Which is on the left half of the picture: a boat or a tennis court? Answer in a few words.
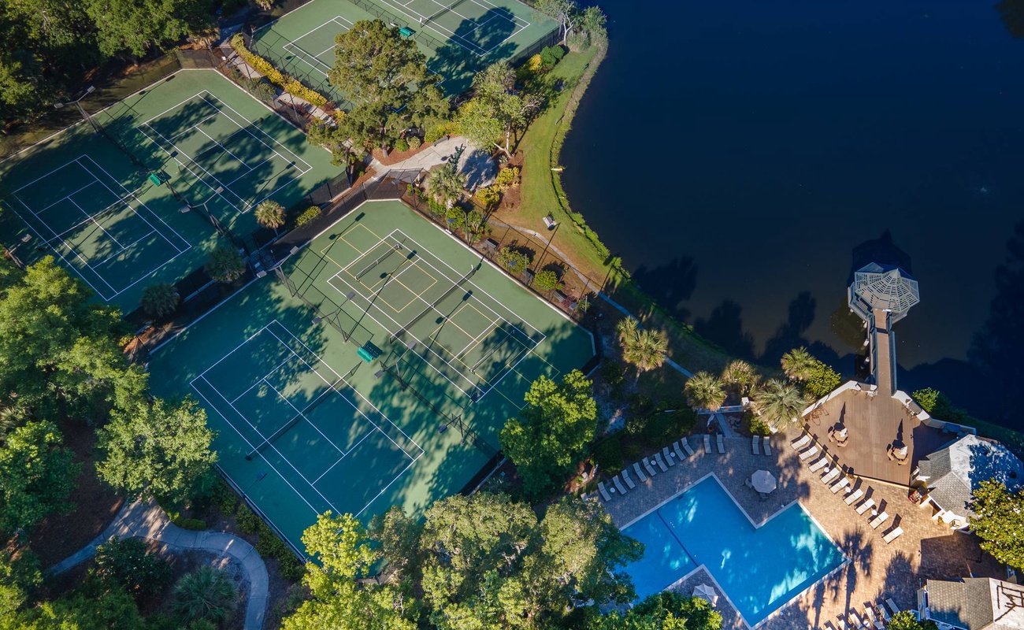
tennis court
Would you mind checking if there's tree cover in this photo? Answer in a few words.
Yes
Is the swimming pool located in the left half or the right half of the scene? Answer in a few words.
right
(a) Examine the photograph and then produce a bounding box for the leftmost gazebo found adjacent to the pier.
[838,261,920,333]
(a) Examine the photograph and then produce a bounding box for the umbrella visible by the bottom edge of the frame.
[691,578,721,610]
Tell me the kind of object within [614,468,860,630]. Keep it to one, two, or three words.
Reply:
swimming pool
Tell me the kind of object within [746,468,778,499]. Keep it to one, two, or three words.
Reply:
umbrella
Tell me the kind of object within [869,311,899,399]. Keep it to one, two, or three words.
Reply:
pier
